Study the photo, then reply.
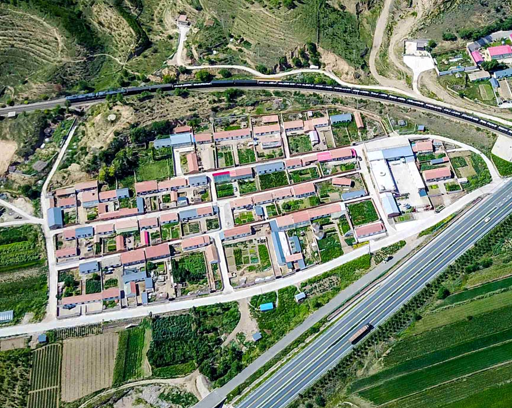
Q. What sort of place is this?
residential area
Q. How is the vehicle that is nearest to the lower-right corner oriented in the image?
at an angle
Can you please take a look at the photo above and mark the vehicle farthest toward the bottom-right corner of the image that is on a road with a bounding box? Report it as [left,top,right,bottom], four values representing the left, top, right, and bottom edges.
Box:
[349,322,372,343]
